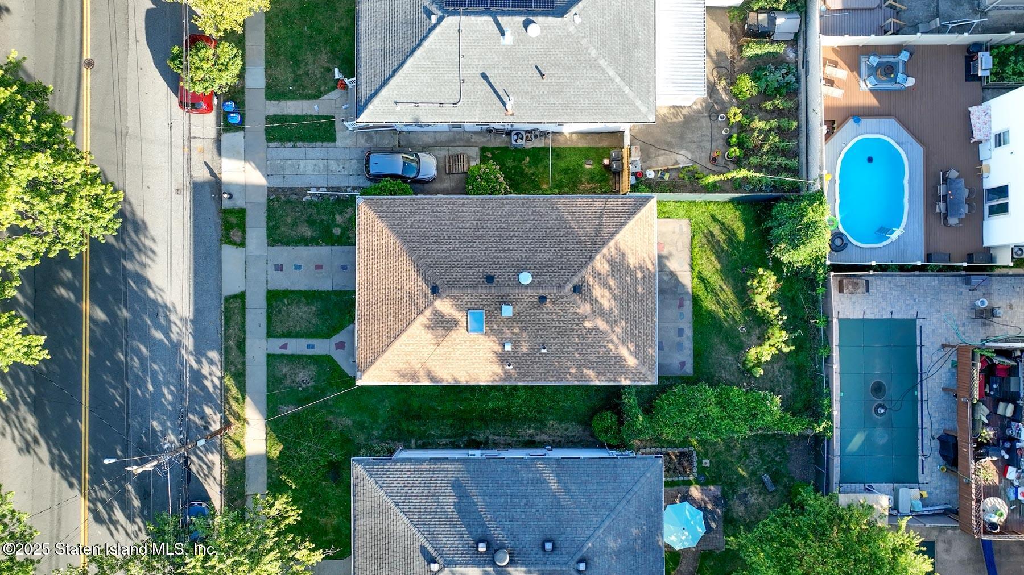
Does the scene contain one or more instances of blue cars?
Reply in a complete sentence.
Yes, I can see a blue car in this picture.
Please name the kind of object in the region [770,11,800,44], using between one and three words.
shed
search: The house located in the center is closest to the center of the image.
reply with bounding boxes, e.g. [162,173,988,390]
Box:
[355,194,659,387]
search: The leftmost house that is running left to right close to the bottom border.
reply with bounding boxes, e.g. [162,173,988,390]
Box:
[350,446,665,575]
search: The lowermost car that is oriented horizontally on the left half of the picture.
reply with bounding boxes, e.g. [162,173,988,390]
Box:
[365,148,437,183]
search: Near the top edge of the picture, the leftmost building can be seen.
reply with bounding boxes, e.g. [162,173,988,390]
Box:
[355,0,657,131]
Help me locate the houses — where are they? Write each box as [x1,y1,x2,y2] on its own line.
[983,88,1024,248]
[355,194,659,387]
[350,446,665,575]
[355,0,657,131]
